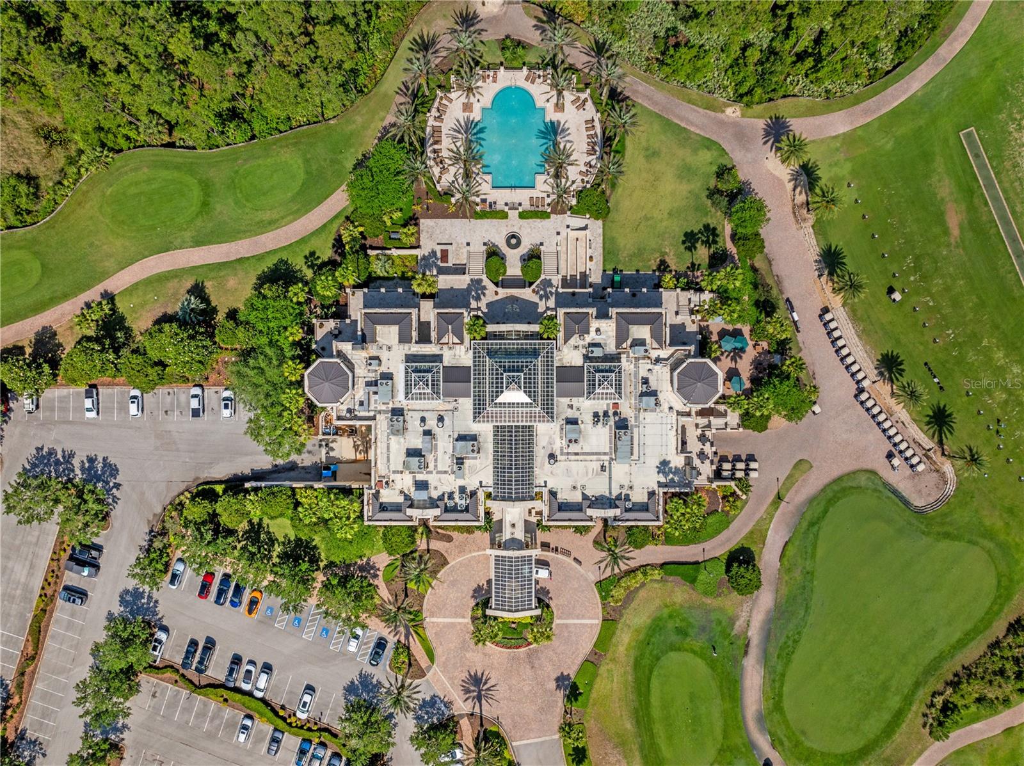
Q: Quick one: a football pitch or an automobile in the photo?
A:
automobile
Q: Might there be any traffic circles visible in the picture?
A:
Yes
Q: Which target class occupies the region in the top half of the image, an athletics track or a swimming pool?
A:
swimming pool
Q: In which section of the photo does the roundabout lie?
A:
bottom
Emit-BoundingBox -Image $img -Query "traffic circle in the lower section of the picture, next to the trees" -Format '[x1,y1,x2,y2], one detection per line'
[423,550,603,747]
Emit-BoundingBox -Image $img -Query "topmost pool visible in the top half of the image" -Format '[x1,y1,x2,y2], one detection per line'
[424,66,603,211]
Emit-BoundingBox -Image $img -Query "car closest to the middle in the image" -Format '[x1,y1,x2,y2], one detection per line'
[538,565,555,577]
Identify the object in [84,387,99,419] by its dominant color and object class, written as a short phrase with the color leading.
white vehicle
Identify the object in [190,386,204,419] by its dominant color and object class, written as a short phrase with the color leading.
white vehicle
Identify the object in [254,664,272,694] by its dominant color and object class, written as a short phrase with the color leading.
white car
